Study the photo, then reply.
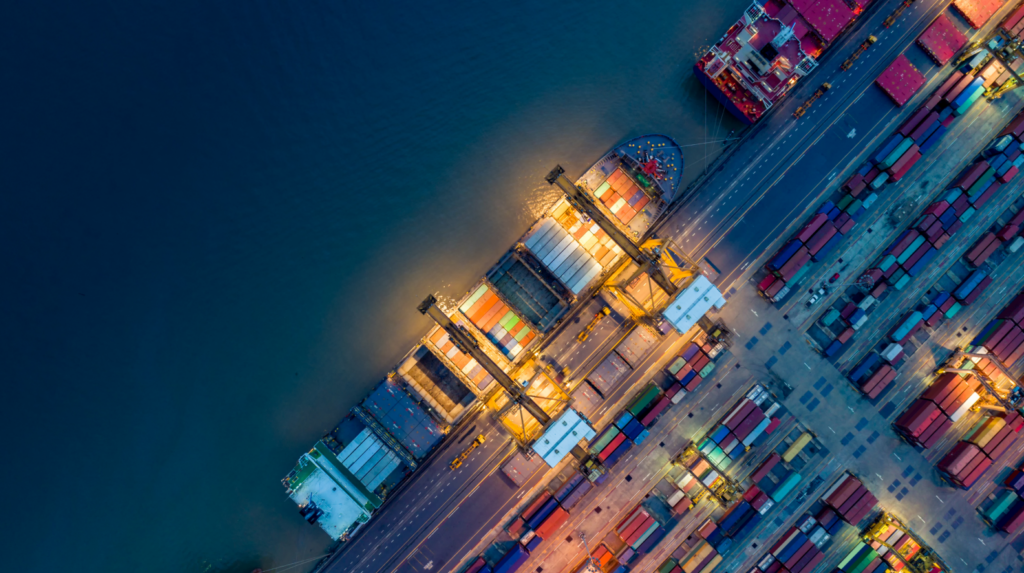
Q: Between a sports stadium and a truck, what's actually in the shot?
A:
truck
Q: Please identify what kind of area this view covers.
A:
port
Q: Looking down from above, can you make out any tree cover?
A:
No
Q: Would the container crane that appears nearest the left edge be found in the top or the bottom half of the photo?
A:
bottom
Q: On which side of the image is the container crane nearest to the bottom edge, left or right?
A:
right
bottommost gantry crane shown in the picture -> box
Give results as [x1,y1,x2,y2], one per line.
[872,512,954,573]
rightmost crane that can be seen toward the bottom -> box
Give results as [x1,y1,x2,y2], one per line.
[934,351,1024,413]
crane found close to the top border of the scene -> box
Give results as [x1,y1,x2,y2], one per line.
[950,22,1024,105]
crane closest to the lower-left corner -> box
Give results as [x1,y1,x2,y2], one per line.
[416,292,606,483]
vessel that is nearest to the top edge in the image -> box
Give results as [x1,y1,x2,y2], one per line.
[692,0,872,124]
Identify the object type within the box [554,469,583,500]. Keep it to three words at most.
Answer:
shipping container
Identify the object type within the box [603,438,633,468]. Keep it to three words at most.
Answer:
shipping container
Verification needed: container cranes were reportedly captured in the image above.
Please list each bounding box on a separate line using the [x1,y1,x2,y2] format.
[416,292,606,483]
[934,351,1024,413]
[544,163,735,349]
[670,441,746,514]
[872,512,954,573]
[950,22,1024,105]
